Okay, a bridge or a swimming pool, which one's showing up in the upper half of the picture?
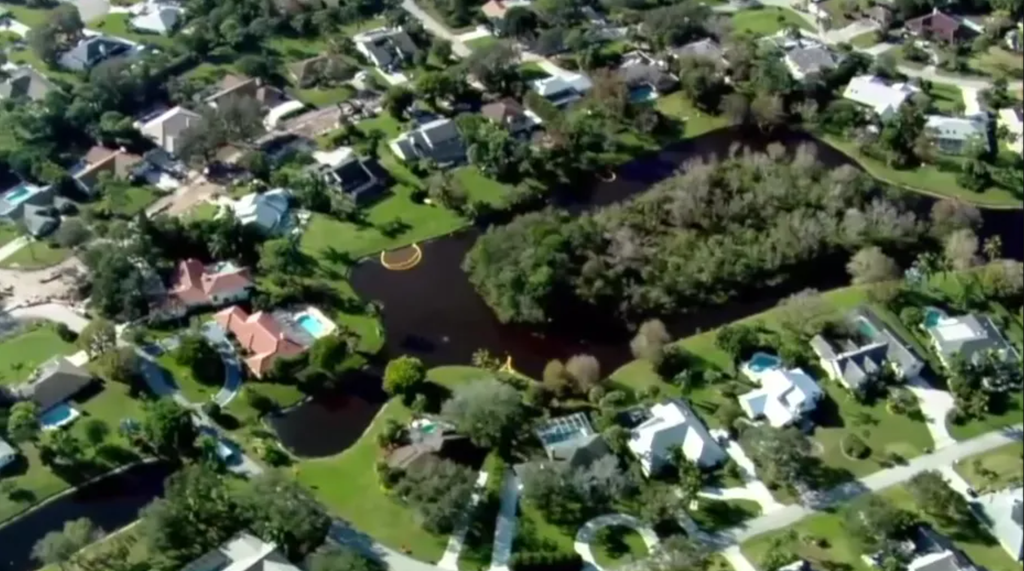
swimming pool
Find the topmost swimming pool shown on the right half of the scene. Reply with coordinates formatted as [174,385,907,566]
[626,87,660,104]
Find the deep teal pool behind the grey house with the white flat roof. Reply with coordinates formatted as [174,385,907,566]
[921,305,957,330]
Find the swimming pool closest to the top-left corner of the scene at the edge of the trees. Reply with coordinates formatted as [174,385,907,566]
[0,184,44,214]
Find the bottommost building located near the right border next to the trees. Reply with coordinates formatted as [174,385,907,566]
[895,525,980,571]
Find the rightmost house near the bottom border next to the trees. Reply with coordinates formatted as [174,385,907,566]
[976,483,1024,565]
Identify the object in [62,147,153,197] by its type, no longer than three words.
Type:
house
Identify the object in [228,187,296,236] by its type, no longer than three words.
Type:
house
